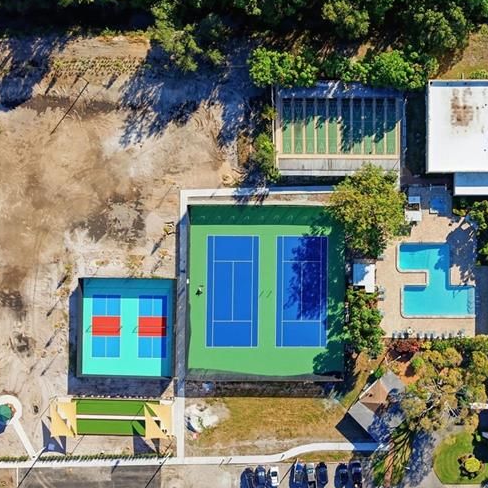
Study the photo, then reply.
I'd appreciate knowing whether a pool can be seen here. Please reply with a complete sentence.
Yes, there's a pool here.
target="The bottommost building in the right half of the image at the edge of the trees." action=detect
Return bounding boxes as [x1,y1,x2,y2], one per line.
[348,370,416,443]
